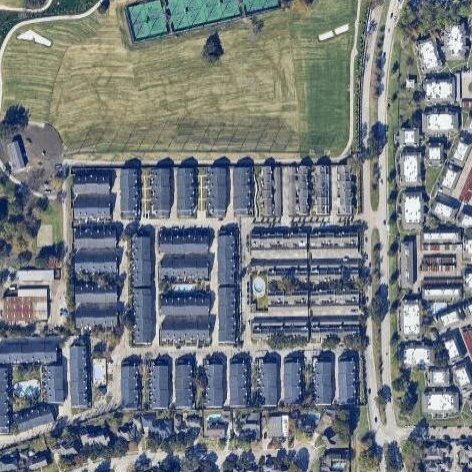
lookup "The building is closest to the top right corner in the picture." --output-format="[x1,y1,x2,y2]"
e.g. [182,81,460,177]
[445,24,468,59]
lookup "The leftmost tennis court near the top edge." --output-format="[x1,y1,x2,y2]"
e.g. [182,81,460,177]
[128,0,169,40]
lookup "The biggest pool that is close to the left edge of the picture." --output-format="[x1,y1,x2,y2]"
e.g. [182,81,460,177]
[15,381,39,402]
